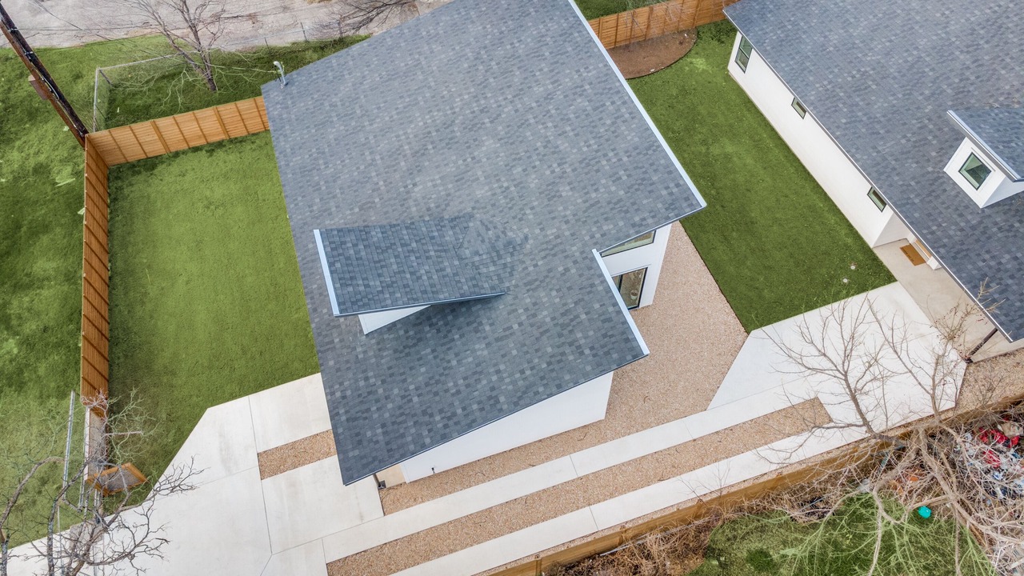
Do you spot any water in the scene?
No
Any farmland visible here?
No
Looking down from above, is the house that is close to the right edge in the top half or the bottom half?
top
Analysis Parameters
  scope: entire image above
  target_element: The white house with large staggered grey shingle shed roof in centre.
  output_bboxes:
[262,0,706,493]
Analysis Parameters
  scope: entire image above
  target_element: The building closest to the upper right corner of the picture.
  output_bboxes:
[723,0,1024,363]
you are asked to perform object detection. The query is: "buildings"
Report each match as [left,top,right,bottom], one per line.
[262,0,706,493]
[723,0,1024,363]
